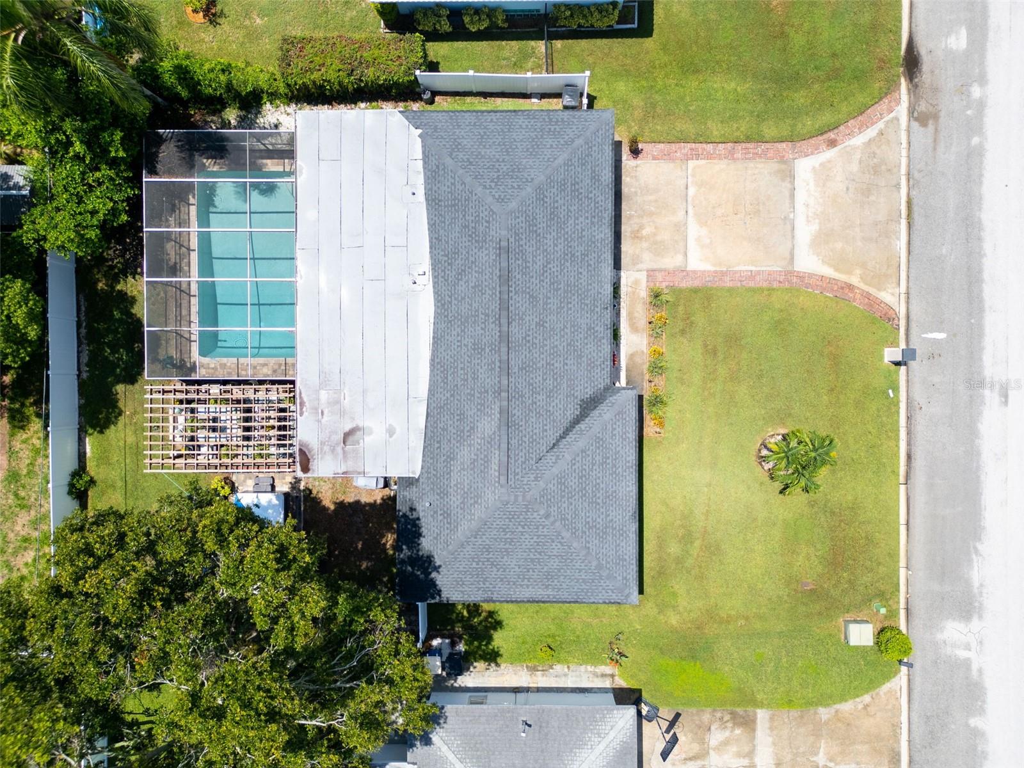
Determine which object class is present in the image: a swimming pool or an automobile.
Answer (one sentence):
It is a swimming pool that can be seen here.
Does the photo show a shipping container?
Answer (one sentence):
No, no shipping container is visible in the scene.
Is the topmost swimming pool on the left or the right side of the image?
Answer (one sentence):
It is on the left.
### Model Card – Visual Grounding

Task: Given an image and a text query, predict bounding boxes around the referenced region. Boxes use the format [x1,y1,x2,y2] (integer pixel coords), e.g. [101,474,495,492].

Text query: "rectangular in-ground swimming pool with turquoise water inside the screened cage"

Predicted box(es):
[189,164,295,364]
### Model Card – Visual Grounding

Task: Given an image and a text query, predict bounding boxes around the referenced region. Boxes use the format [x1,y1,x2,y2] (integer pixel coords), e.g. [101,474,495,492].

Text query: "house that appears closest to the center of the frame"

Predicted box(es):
[296,110,638,603]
